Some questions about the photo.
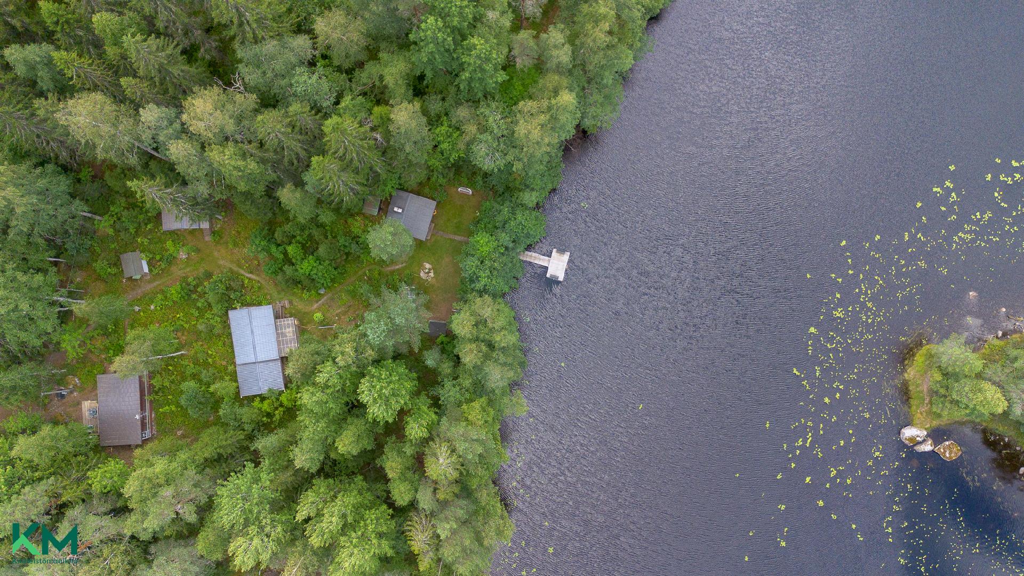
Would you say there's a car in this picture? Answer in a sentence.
No, I can see no car in this picture.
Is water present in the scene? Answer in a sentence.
Yes, water can be seen from above here.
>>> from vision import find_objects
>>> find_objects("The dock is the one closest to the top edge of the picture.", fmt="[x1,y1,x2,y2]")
[524,248,570,282]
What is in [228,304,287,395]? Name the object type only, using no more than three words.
building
